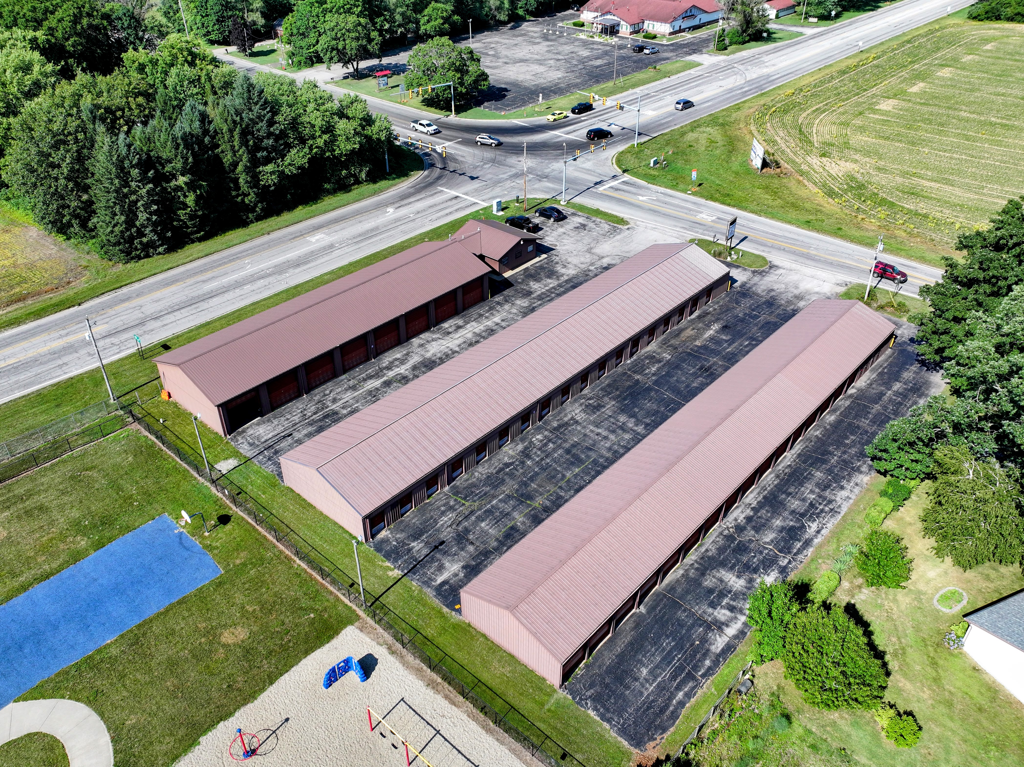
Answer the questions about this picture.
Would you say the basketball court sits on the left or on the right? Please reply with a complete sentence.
It is on the left.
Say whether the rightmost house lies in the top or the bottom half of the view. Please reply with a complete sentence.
Seen from above, the rightmost house lies in the bottom half of the view.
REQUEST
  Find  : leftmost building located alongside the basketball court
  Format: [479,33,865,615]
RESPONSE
[151,235,494,438]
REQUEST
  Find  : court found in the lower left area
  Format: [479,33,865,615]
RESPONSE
[0,513,222,709]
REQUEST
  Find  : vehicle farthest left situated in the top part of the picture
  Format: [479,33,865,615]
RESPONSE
[411,120,439,135]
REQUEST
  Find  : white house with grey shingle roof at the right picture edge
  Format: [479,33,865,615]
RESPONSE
[964,553,1024,679]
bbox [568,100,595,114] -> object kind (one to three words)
vehicle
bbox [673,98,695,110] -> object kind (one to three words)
vehicle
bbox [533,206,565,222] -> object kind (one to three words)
car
